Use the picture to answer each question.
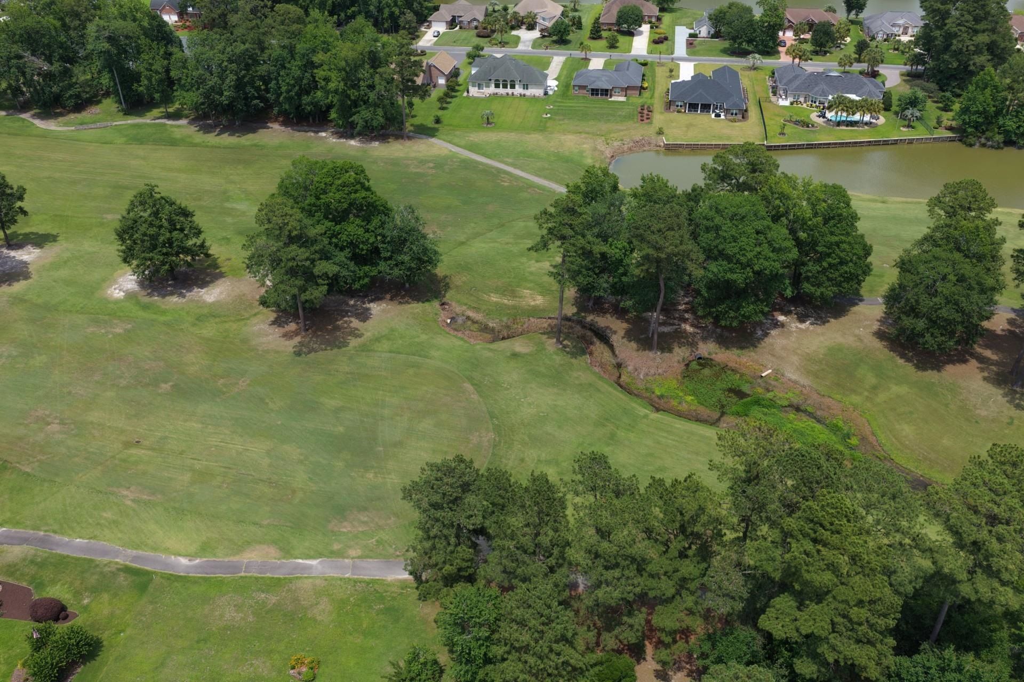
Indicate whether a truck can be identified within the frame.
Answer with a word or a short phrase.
No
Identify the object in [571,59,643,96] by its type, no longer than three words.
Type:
house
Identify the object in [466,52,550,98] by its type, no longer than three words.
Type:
house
